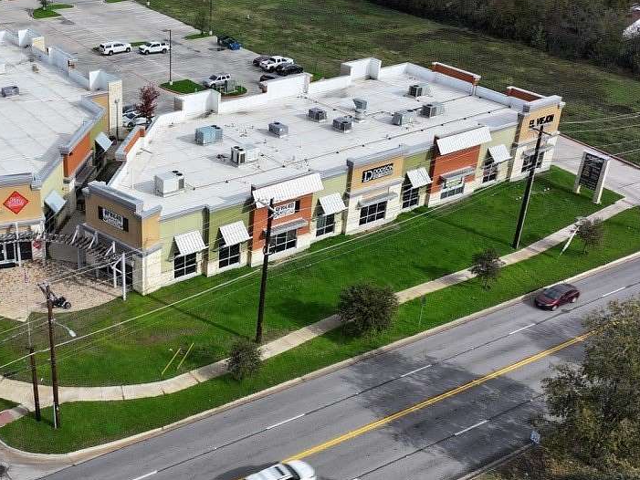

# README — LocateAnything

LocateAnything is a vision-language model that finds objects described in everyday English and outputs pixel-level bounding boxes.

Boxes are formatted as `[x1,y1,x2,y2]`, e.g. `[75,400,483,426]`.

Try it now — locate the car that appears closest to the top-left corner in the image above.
[97,40,130,55]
